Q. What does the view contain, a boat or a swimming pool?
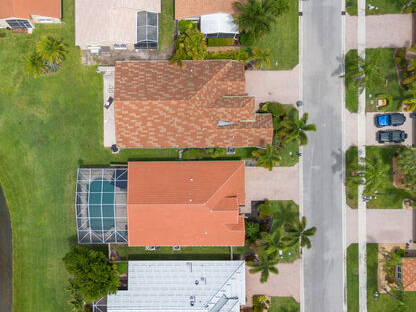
swimming pool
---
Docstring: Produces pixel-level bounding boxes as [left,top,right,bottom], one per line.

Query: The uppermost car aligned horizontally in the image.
[375,112,404,126]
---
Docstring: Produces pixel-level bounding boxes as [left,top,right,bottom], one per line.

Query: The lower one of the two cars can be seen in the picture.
[375,129,408,143]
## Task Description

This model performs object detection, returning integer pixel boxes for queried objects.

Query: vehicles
[375,112,404,126]
[375,129,408,143]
